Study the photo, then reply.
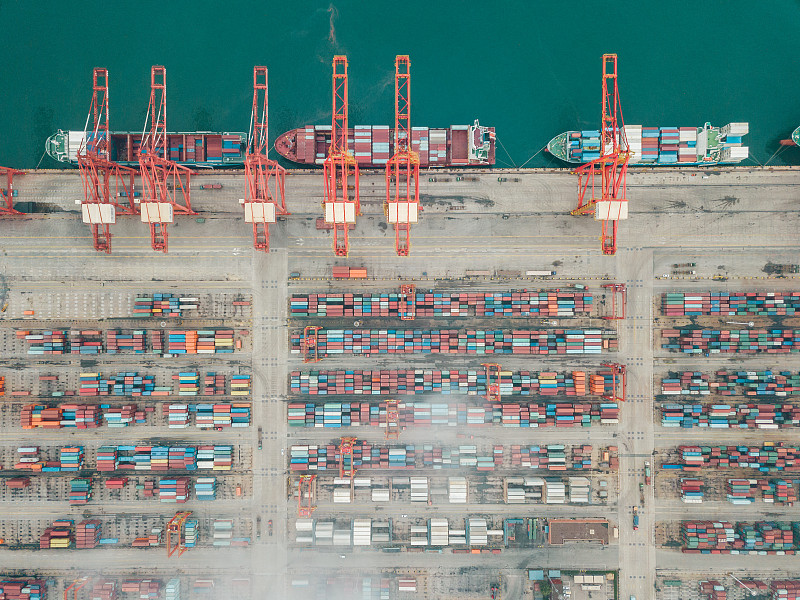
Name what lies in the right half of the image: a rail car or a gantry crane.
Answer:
gantry crane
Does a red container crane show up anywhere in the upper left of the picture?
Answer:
Yes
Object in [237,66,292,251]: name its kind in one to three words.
container crane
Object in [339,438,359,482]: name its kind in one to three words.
container crane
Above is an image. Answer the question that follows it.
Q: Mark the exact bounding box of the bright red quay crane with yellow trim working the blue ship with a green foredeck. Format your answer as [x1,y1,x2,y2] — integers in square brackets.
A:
[569,52,633,258]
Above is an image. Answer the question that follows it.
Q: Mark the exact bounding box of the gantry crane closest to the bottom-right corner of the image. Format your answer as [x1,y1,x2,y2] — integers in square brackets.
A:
[598,364,627,405]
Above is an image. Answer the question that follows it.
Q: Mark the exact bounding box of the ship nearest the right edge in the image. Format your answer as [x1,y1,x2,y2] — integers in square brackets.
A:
[778,127,800,152]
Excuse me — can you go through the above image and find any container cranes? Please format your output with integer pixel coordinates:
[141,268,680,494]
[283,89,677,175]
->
[320,53,364,258]
[298,475,320,520]
[598,284,627,321]
[383,53,422,258]
[304,326,325,365]
[339,438,359,482]
[0,165,26,214]
[166,512,195,558]
[385,400,403,442]
[479,365,502,405]
[134,66,198,251]
[76,66,145,251]
[598,364,627,405]
[399,283,417,320]
[569,52,633,258]
[237,66,292,251]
